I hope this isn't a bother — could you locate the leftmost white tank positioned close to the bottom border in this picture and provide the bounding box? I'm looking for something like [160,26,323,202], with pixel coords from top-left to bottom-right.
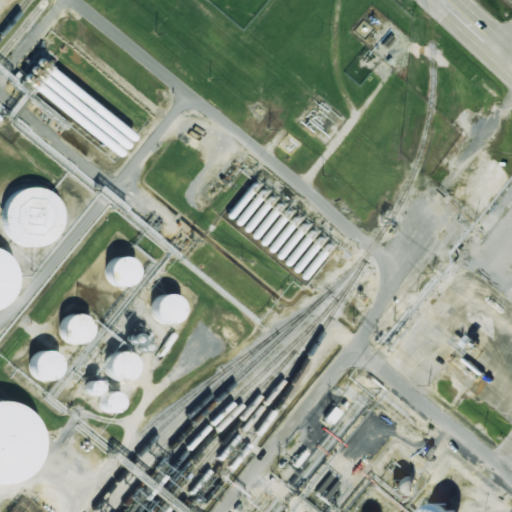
[0,398,48,486]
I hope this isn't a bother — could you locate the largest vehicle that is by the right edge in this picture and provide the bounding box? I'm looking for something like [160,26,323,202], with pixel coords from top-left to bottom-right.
[456,355,490,381]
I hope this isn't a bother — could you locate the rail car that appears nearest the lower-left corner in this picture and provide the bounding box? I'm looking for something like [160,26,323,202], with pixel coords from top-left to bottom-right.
[97,484,118,509]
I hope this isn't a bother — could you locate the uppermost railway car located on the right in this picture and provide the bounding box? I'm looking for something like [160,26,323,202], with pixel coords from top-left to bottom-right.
[305,330,327,358]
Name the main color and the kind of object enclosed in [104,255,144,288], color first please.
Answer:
white storage tank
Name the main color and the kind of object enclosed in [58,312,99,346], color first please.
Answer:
white storage tank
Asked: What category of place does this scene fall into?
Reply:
industrial area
